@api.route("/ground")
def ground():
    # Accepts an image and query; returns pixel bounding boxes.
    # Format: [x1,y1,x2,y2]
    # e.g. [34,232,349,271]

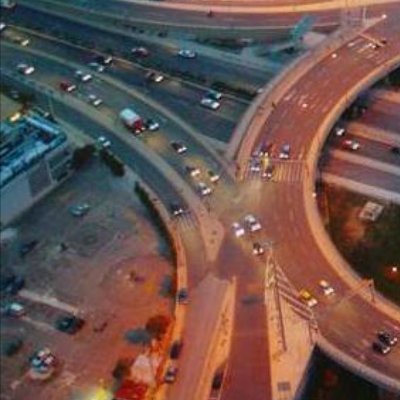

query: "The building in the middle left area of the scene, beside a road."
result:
[0,108,70,227]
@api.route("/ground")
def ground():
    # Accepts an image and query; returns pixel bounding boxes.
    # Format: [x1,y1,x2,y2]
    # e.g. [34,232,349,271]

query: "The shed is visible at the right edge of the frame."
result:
[358,198,384,221]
